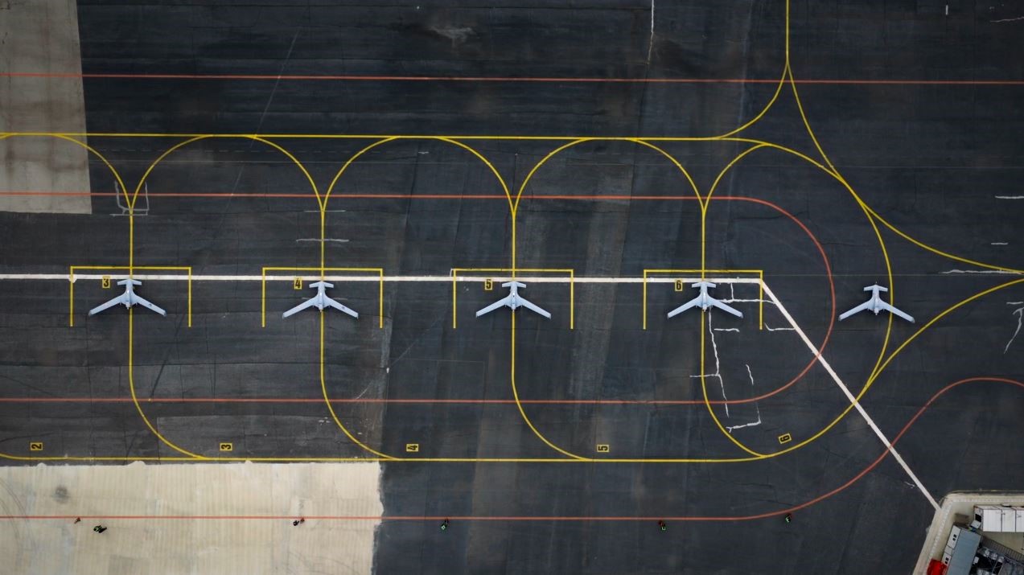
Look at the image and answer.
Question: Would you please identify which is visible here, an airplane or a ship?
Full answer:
There is an airplane in the scene.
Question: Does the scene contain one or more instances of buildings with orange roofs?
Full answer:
No, no building with an orange roof is visible in the view.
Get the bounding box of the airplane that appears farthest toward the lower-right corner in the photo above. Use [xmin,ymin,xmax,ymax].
[839,285,916,322]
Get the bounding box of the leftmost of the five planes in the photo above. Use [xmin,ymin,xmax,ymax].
[89,278,165,316]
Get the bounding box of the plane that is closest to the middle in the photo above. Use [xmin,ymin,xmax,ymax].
[476,282,552,319]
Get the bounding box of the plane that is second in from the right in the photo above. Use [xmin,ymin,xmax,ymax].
[668,282,744,318]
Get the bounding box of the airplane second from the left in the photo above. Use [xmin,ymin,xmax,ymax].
[282,282,357,318]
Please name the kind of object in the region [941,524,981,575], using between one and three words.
building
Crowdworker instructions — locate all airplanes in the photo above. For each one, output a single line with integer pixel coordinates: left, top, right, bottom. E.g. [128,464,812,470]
[282,282,357,318]
[476,282,552,319]
[839,285,916,322]
[89,278,165,316]
[668,282,744,318]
